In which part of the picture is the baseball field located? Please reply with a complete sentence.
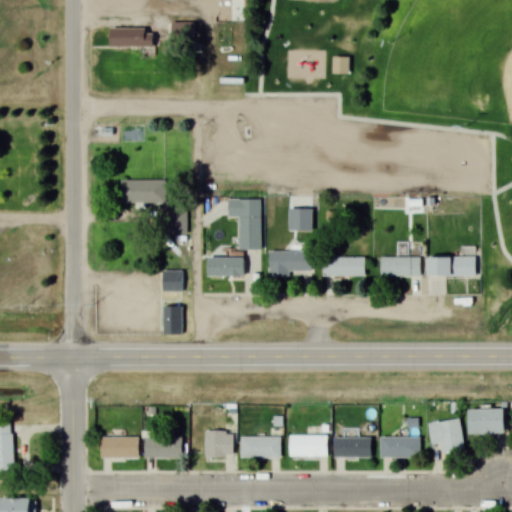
The baseball field sits in the top right section of the image.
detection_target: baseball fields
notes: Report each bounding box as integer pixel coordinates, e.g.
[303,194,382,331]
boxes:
[384,0,512,124]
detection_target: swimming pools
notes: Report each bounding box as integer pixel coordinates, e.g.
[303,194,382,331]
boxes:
[410,428,421,438]
[366,408,378,420]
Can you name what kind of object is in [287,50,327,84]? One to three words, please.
playground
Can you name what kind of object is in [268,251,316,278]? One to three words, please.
house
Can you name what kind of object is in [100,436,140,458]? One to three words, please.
house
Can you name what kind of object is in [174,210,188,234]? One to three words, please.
building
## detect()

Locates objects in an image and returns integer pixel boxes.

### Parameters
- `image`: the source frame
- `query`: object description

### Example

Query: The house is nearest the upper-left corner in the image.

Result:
[109,28,153,46]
